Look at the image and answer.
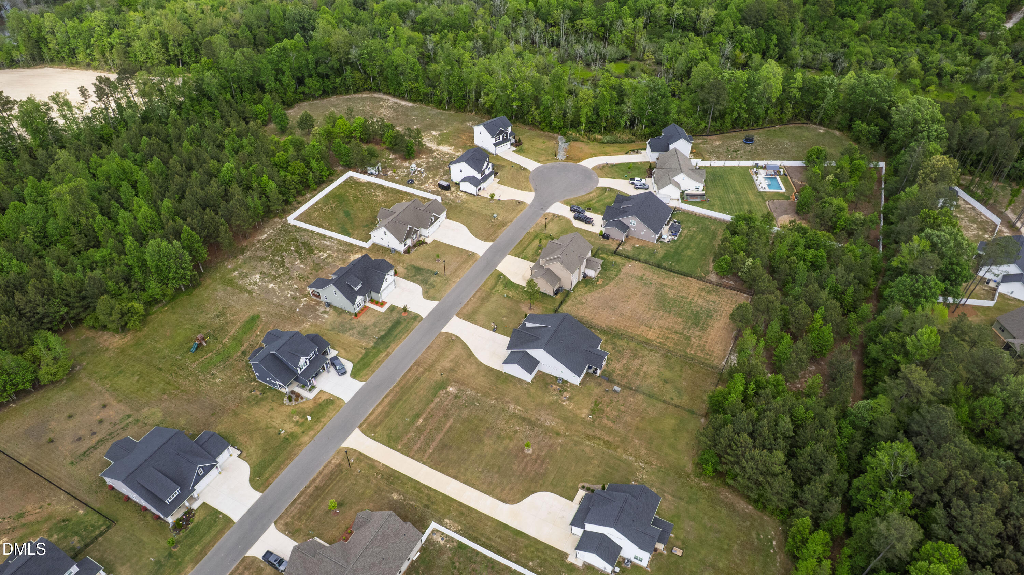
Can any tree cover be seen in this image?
Yes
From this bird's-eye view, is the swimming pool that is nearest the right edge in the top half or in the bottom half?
top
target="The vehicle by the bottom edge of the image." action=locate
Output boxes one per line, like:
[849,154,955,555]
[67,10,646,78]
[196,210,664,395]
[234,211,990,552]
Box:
[259,547,288,573]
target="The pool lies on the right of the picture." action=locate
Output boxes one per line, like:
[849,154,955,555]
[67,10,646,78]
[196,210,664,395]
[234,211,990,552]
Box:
[750,169,786,192]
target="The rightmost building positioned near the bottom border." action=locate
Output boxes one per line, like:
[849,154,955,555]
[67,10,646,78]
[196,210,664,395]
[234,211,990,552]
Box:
[569,480,674,575]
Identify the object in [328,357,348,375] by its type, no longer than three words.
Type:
vehicle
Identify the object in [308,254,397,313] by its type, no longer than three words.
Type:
house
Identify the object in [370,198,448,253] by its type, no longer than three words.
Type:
house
